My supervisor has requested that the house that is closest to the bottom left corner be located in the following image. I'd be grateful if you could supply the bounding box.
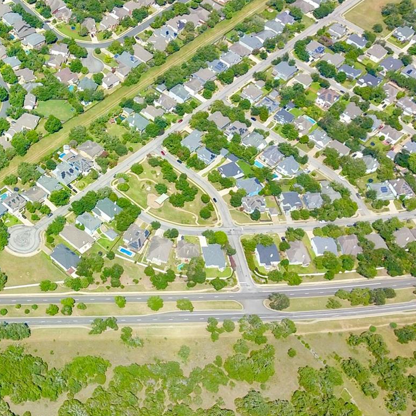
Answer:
[48,242,84,274]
